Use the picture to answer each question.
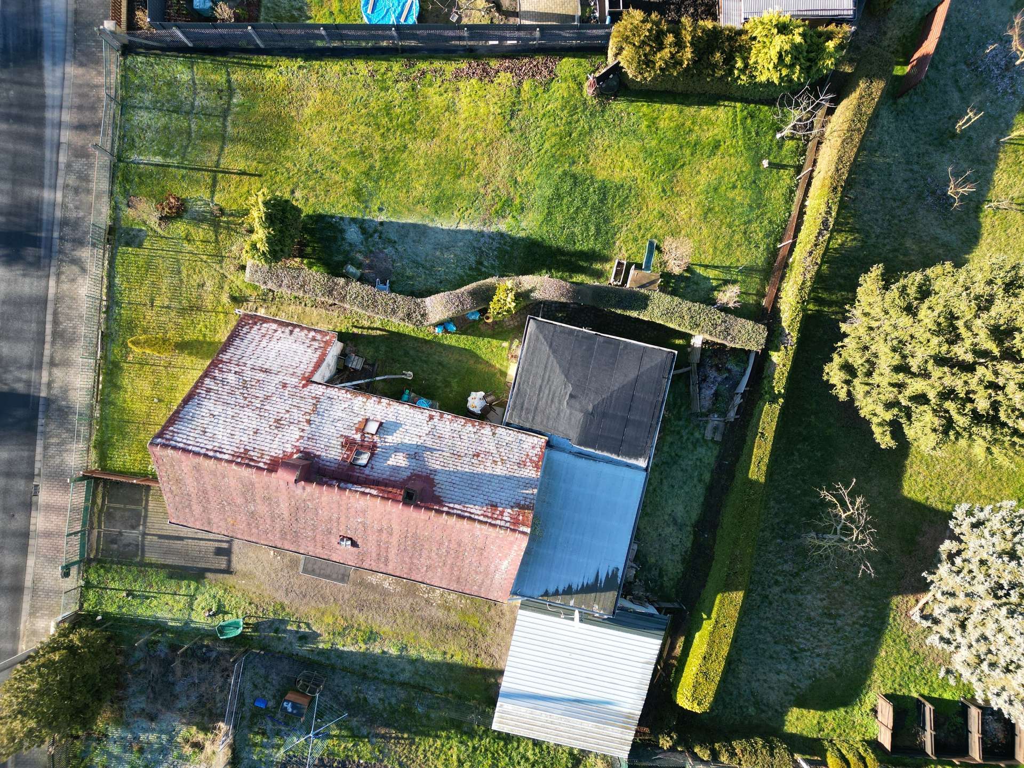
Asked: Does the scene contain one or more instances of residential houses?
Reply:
Yes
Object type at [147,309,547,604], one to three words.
house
